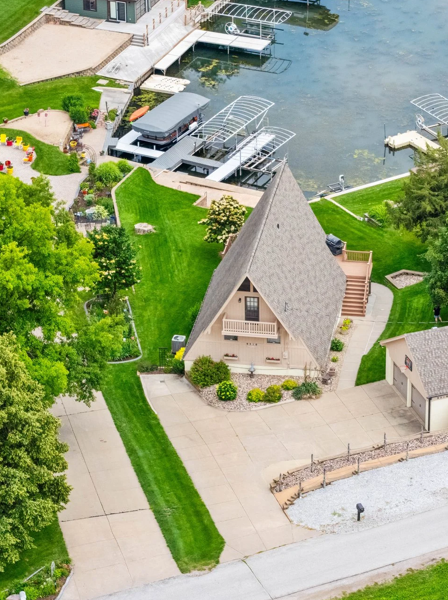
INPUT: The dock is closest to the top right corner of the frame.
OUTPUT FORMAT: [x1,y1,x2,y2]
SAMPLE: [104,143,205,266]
[384,123,435,159]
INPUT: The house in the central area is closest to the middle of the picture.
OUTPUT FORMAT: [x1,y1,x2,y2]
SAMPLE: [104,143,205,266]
[183,160,345,376]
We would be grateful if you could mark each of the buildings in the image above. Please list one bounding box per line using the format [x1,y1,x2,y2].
[64,0,164,23]
[376,322,448,431]
[183,160,345,376]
